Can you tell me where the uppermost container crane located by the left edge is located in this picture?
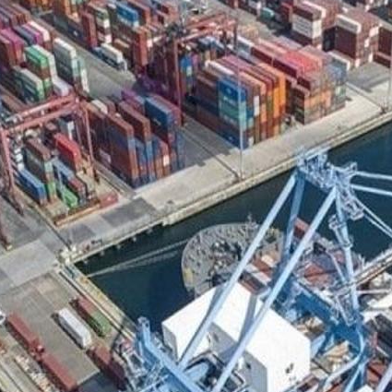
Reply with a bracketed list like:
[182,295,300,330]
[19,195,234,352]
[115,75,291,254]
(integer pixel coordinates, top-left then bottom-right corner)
[3,91,98,221]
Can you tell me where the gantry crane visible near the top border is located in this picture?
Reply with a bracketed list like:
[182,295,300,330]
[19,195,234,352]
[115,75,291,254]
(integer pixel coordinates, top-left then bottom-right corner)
[152,5,239,128]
